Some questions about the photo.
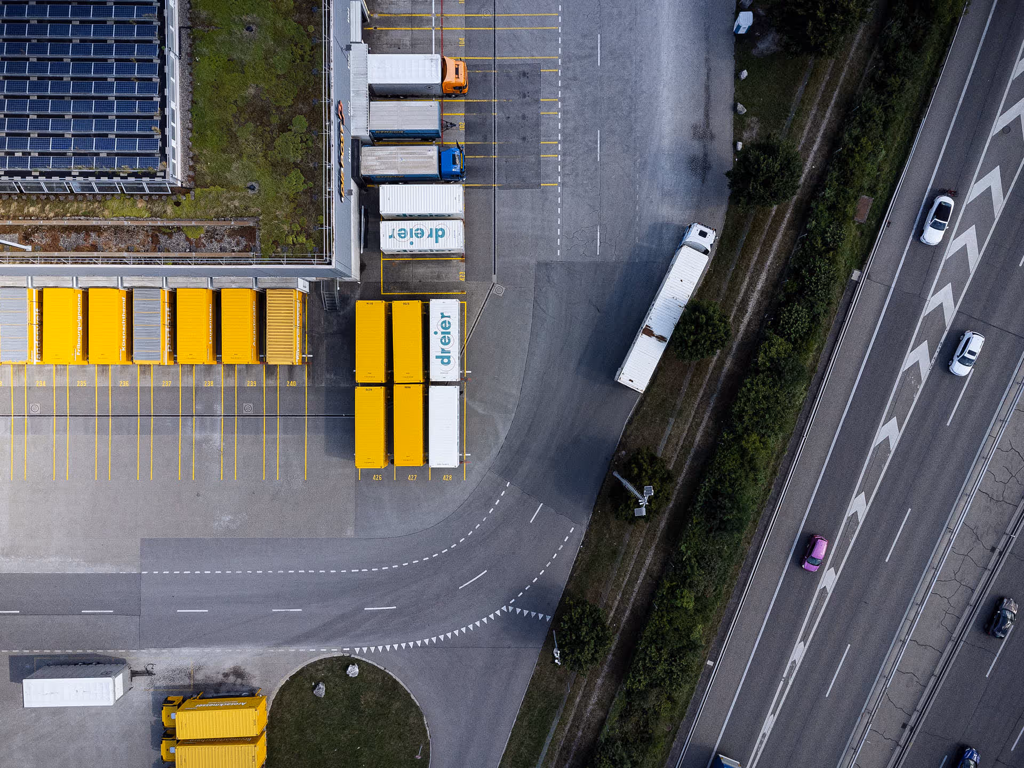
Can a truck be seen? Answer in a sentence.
Yes, looking at the shot, I can spot a truck.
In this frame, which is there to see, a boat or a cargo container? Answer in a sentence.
I can see a cargo container in this picture.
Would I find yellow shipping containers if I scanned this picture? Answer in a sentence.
Yes, the image includes a yellow shipping container.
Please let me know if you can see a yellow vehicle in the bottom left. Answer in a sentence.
Yes, there is a yellow vehicle in the bottom left.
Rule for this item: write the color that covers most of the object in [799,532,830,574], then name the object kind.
purple car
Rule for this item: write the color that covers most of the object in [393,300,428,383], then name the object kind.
yellow shipping container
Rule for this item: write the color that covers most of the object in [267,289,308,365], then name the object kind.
yellow shipping container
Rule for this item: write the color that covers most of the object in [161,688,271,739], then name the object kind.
yellow truck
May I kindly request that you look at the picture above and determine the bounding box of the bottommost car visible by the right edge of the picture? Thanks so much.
[952,745,981,768]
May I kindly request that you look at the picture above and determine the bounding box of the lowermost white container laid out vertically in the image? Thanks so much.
[429,385,460,467]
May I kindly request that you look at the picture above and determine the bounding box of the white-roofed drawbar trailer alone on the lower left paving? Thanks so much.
[23,660,157,707]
